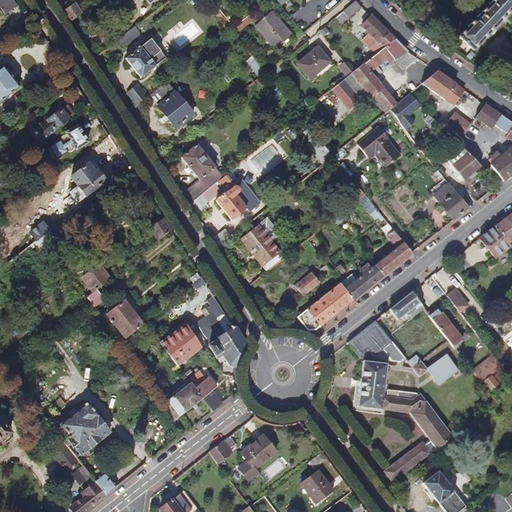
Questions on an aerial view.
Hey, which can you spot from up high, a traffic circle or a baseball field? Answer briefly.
traffic circle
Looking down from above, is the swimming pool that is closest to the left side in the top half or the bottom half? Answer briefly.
top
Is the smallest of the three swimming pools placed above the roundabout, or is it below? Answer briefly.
below it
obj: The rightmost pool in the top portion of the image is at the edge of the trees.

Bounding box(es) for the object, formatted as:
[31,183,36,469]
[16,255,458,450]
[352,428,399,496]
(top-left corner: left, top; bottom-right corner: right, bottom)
[246,139,286,178]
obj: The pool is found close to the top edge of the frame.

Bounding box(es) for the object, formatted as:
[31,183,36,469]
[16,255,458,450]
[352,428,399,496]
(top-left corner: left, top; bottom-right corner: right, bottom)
[170,18,203,50]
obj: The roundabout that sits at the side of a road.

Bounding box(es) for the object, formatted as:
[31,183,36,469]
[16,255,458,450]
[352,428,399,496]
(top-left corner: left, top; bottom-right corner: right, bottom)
[247,334,321,411]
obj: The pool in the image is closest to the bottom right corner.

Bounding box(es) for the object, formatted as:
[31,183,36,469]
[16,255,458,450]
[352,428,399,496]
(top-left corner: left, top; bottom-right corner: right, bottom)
[260,457,288,482]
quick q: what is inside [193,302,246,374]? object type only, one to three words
house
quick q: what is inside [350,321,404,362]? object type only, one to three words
building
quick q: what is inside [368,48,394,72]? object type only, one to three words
shed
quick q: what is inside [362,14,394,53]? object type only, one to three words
house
